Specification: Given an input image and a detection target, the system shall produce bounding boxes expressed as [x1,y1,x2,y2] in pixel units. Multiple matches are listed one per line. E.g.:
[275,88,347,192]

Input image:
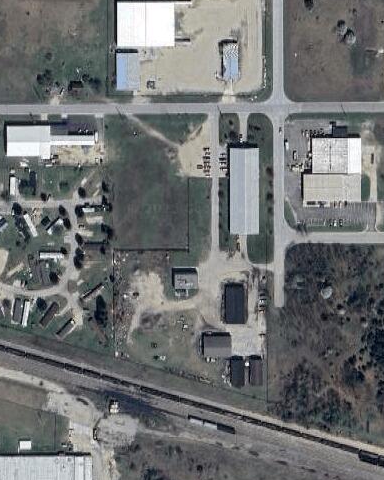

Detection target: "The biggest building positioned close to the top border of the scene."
[117,2,175,47]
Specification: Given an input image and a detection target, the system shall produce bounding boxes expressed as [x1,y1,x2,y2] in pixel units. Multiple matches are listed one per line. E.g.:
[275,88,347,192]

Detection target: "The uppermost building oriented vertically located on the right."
[223,43,238,81]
